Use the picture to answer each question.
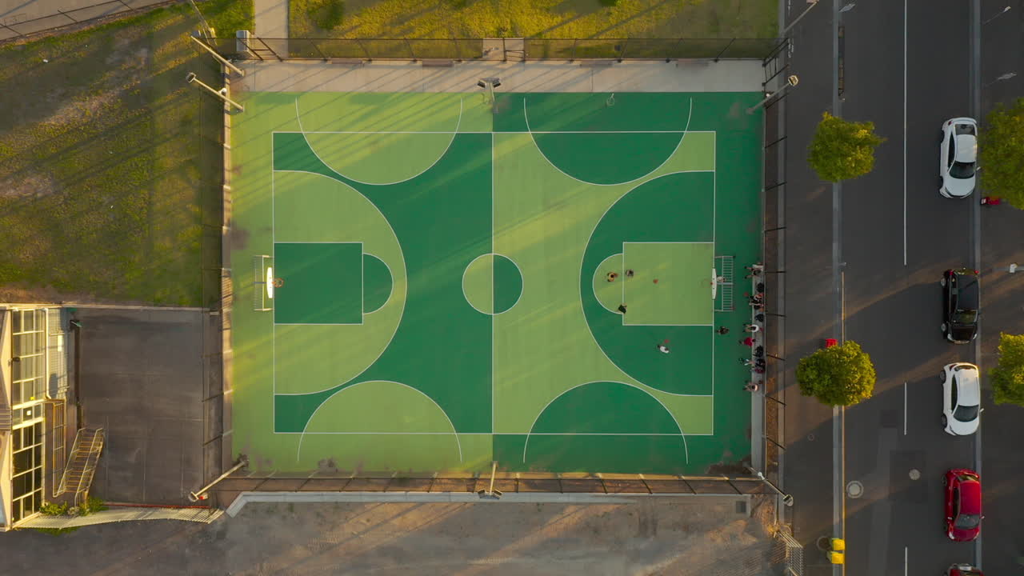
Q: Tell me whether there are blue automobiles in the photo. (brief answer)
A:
No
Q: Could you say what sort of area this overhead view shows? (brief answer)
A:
sports ground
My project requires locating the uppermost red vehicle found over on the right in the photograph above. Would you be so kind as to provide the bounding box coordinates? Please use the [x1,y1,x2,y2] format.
[941,466,984,542]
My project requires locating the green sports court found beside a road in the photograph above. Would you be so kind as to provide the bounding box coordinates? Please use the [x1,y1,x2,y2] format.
[233,92,762,472]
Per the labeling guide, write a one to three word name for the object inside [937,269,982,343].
car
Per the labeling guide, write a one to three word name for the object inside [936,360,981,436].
car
